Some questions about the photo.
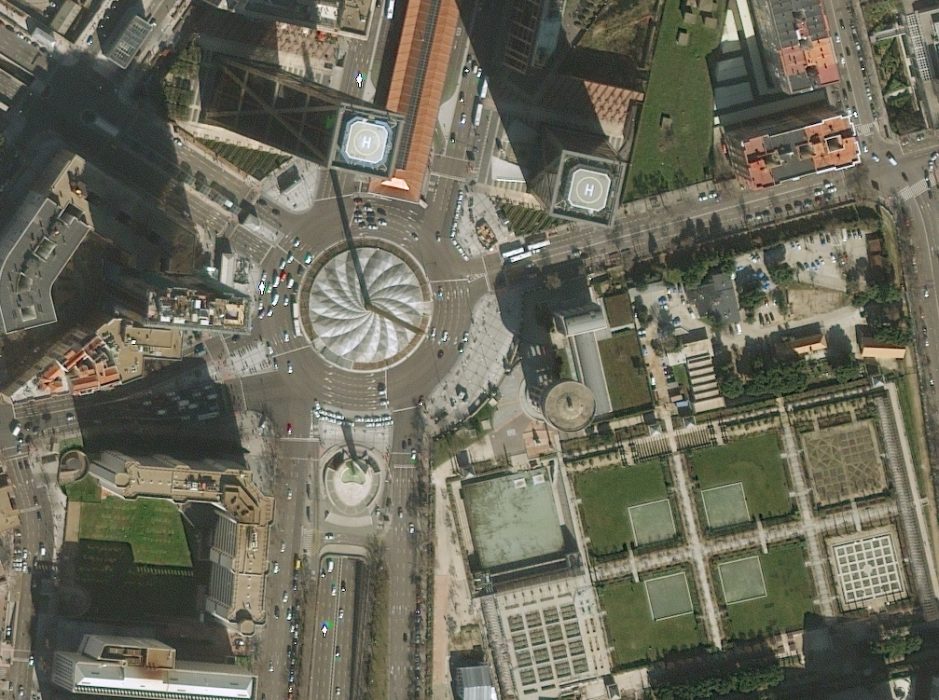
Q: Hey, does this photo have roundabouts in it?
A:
Yes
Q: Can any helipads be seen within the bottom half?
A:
No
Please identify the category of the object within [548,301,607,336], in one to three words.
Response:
building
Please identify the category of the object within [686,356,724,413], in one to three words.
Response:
shed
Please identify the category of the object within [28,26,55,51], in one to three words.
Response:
house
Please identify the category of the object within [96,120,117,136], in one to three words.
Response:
vehicle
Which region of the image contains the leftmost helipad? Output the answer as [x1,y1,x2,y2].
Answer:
[343,116,390,162]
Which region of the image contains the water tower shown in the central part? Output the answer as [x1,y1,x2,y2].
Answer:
[517,367,596,432]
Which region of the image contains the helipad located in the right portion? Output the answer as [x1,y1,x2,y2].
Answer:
[567,163,613,211]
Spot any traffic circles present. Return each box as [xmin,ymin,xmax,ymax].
[298,236,435,372]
